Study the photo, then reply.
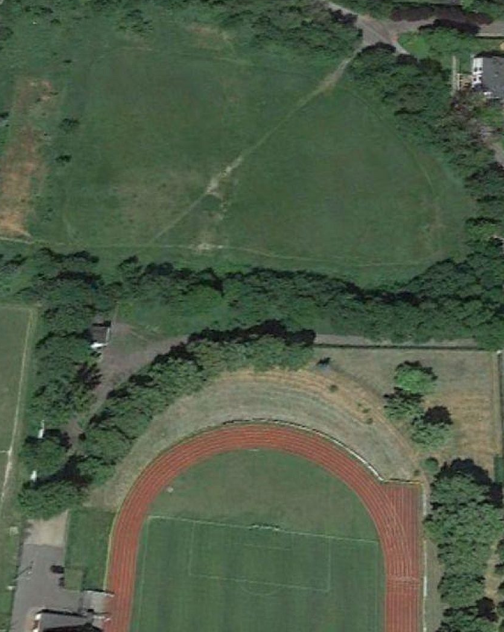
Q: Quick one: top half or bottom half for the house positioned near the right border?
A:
top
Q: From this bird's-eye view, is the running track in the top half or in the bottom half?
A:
bottom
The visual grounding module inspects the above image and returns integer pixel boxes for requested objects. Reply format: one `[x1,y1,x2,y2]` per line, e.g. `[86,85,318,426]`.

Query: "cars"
[52,568,62,573]
[58,577,65,587]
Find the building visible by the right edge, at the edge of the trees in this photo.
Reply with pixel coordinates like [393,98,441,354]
[469,57,504,94]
